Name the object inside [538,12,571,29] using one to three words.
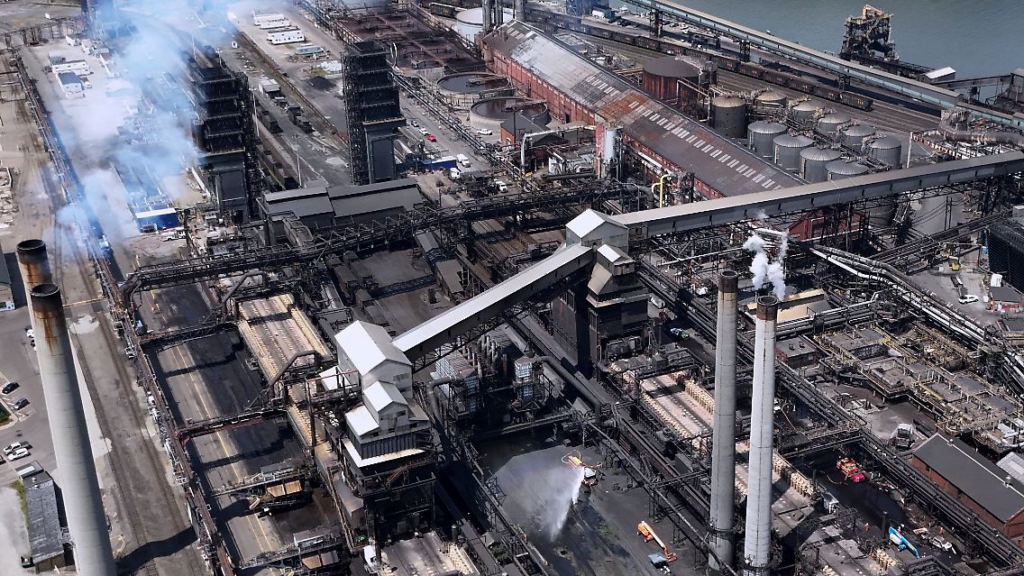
rail car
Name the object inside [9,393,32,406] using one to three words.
vehicle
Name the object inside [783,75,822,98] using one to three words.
rail car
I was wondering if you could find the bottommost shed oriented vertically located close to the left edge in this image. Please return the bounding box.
[24,482,66,576]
